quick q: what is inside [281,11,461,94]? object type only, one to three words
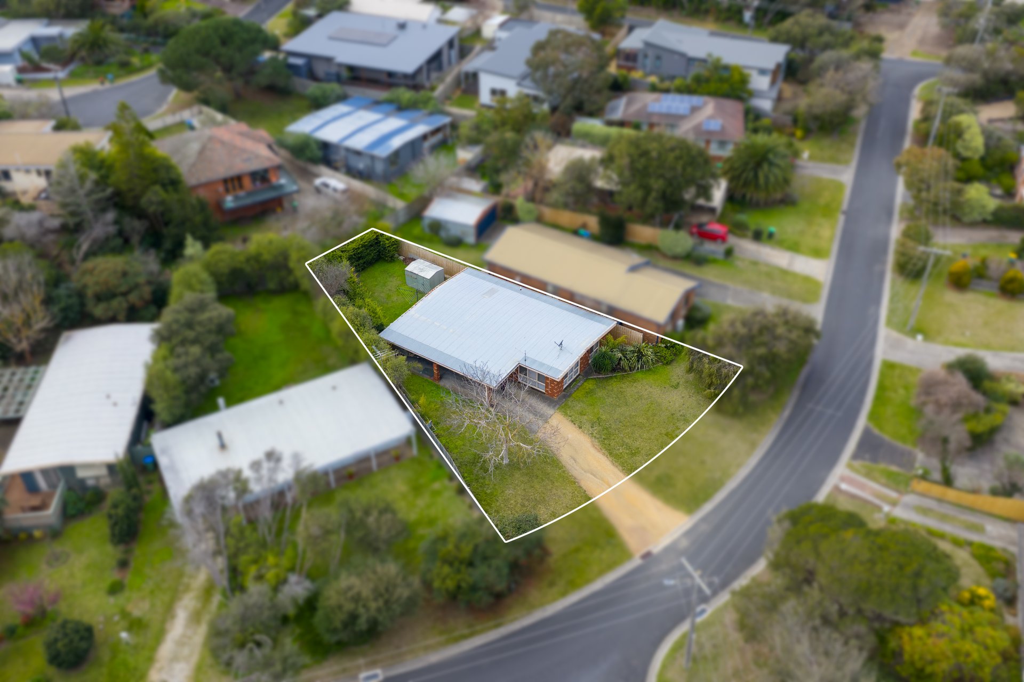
house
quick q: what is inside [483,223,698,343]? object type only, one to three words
house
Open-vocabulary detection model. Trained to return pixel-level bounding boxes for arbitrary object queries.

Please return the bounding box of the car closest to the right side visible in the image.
[691,224,730,244]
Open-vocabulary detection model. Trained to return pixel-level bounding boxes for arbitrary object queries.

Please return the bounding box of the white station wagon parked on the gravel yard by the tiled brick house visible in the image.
[314,178,349,195]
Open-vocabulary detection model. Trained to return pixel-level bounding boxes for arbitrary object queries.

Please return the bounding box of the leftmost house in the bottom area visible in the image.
[0,322,165,531]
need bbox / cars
[314,178,349,195]
[691,224,730,244]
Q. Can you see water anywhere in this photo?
No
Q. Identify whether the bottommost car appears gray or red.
red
